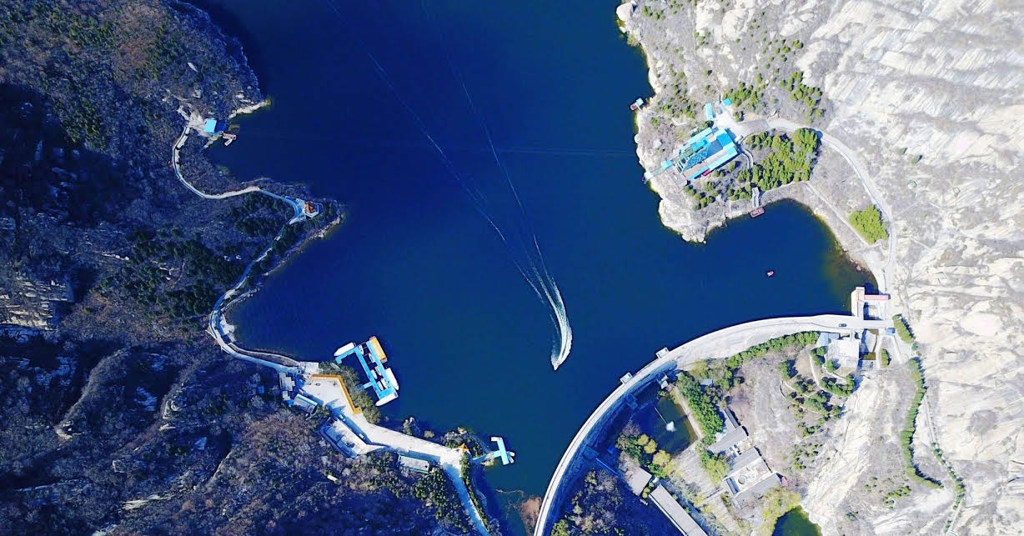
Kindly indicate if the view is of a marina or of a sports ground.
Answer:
marina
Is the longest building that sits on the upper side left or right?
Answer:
right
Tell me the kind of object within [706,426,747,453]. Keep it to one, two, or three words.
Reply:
house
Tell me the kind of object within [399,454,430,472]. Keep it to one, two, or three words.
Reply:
building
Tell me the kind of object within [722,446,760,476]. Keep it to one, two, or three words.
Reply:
house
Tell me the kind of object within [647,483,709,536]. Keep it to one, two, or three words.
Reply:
building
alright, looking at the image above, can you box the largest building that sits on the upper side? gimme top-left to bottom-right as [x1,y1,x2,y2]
[676,128,744,180]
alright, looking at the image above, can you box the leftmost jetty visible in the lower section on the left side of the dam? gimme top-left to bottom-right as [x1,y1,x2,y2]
[336,341,398,400]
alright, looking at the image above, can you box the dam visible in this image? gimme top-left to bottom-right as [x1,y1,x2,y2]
[534,314,856,536]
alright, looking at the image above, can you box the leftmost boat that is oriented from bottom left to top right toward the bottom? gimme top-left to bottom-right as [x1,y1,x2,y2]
[334,342,355,356]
